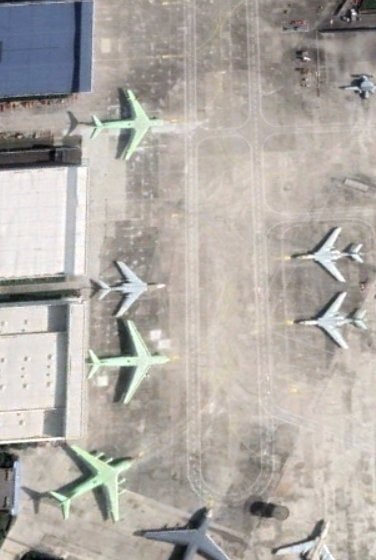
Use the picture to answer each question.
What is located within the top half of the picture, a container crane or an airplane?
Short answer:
airplane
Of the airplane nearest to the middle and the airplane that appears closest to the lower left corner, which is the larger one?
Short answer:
the airplane that appears closest to the lower left corner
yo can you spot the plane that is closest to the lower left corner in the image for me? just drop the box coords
[48,445,134,522]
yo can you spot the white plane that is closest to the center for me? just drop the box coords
[95,262,164,316]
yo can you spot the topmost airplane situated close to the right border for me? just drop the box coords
[345,74,376,97]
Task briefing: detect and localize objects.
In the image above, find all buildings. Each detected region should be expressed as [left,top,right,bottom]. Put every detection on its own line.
[0,0,93,99]
[0,149,50,163]
[0,461,20,517]
[0,163,87,279]
[0,297,85,442]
